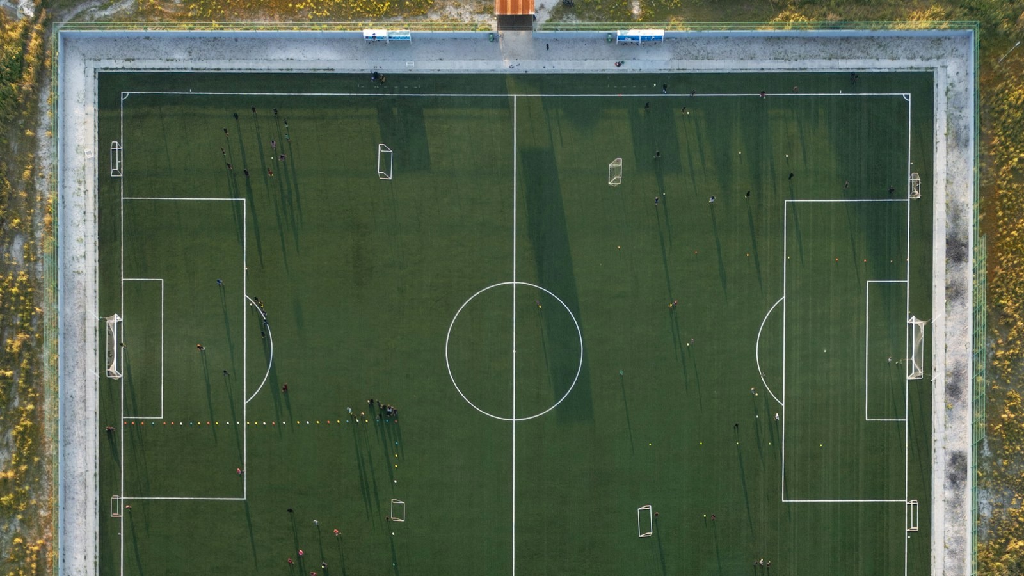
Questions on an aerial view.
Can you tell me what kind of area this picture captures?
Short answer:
sports ground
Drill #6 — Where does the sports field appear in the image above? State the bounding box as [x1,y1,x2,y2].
[98,72,934,576]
